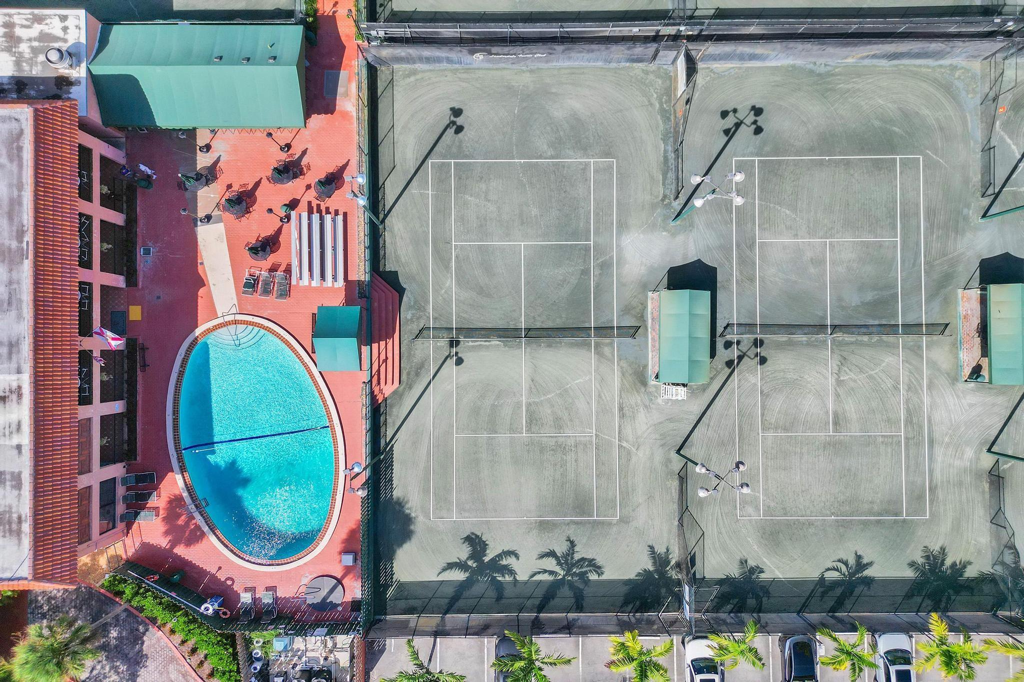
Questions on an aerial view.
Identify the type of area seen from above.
sports ground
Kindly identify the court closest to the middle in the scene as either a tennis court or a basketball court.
tennis court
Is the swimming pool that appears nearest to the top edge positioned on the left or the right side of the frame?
left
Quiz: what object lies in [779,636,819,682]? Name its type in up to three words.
car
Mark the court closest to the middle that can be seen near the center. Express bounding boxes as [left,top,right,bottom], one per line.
[371,65,673,616]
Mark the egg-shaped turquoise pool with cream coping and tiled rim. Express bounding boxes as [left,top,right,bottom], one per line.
[167,314,344,570]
